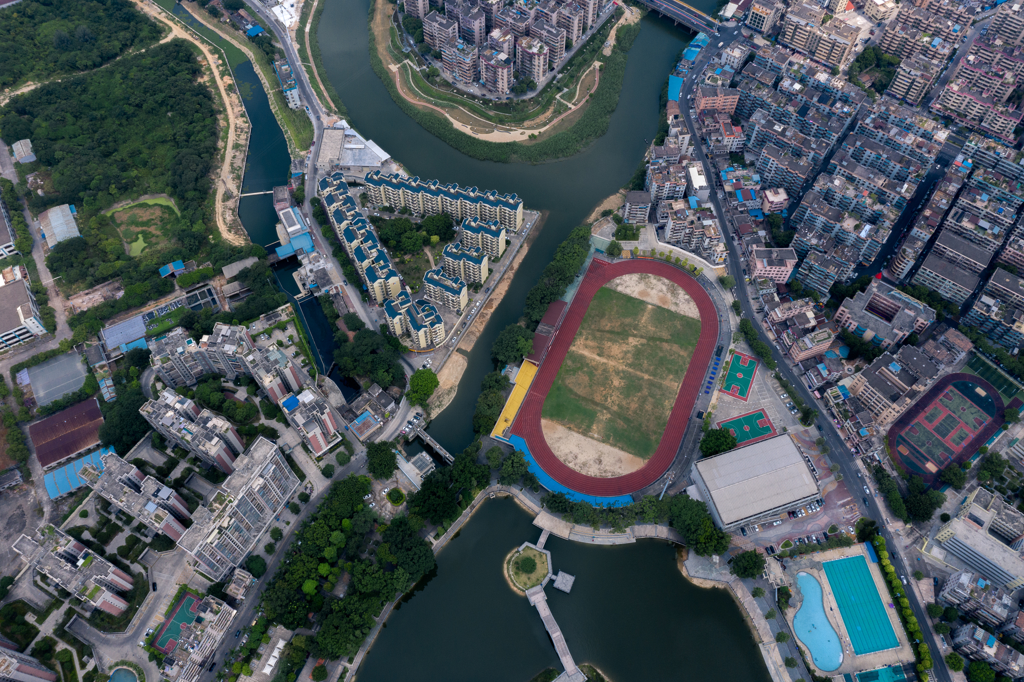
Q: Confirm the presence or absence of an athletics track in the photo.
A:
Yes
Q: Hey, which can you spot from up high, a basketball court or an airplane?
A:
basketball court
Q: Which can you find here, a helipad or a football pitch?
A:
football pitch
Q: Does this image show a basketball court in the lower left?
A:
Yes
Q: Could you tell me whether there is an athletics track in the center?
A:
Yes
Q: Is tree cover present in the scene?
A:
Yes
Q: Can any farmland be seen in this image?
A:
No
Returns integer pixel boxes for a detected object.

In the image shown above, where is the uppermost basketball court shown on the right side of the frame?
[718,350,761,401]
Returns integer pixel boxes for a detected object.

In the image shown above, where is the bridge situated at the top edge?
[632,0,731,43]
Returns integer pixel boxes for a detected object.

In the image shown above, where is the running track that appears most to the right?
[886,372,1023,481]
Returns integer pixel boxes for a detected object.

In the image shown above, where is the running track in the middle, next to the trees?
[506,253,719,497]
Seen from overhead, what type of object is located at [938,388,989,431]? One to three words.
basketball court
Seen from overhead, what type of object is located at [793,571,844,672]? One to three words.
swimming pool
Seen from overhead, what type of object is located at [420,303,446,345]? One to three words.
building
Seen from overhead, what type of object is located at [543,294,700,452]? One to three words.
sports field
